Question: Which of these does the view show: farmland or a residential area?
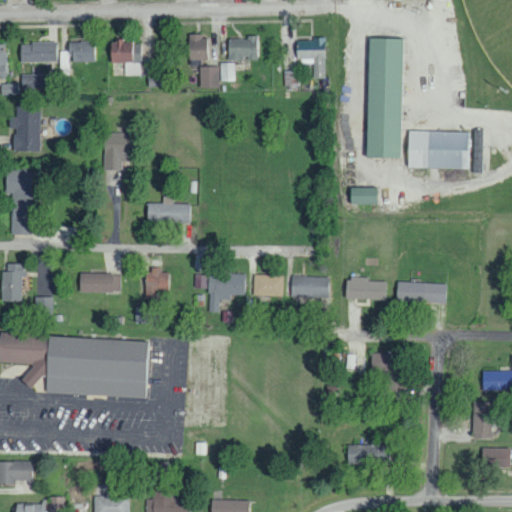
residential area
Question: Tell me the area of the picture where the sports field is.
top right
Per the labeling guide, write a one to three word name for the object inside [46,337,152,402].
building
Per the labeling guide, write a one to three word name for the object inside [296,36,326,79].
house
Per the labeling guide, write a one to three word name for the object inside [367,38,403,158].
barn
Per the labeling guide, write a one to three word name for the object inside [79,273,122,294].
house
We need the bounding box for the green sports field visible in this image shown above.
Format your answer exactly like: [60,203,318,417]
[462,0,512,88]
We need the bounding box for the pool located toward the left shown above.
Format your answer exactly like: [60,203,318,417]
[54,119,72,135]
